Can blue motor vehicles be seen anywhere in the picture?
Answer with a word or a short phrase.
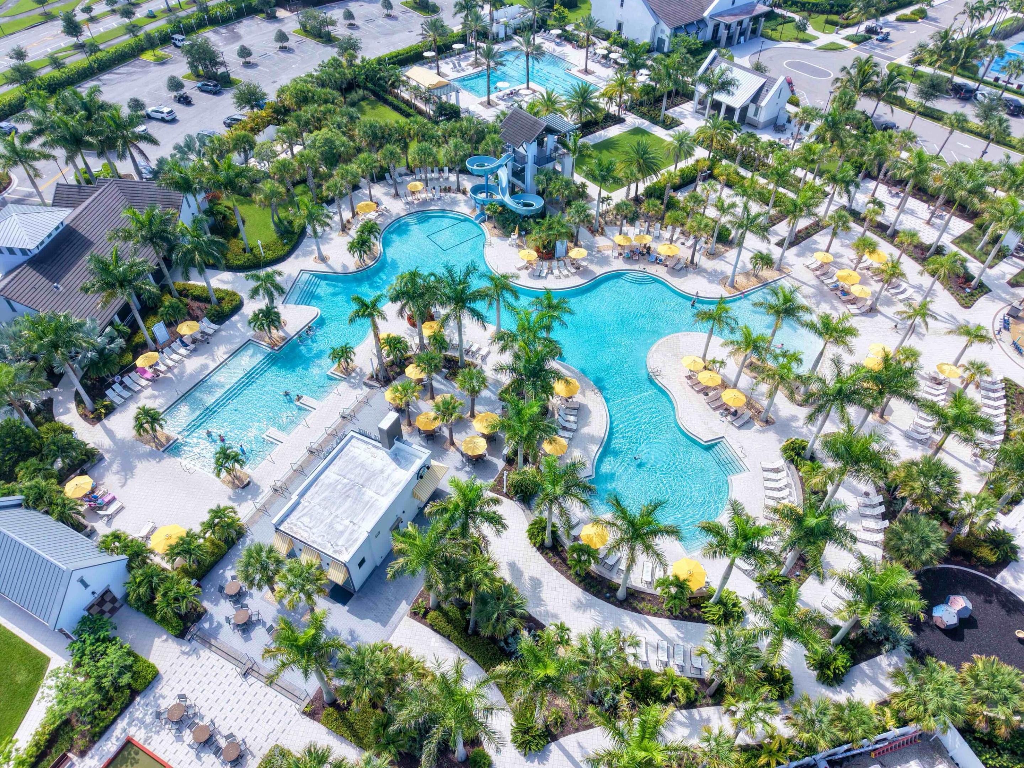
Yes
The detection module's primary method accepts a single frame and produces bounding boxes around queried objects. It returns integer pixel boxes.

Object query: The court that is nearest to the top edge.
[979,31,1024,83]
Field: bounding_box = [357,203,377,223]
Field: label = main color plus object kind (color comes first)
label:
yellow umbrella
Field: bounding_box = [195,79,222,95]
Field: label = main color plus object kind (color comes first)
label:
blue car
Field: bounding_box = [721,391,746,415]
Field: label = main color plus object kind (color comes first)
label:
yellow umbrella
